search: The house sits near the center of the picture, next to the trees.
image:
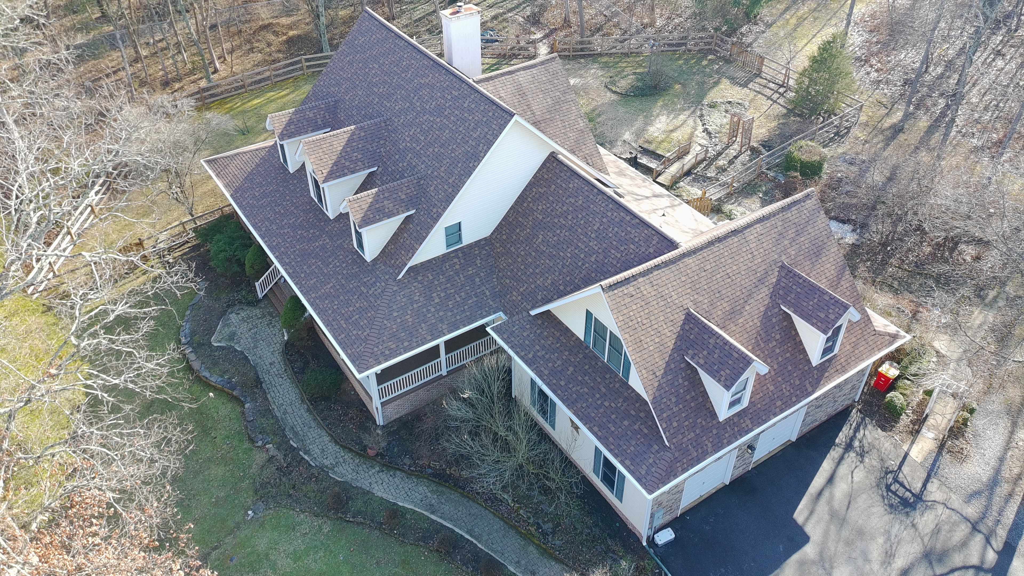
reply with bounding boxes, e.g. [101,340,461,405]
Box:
[197,0,917,548]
